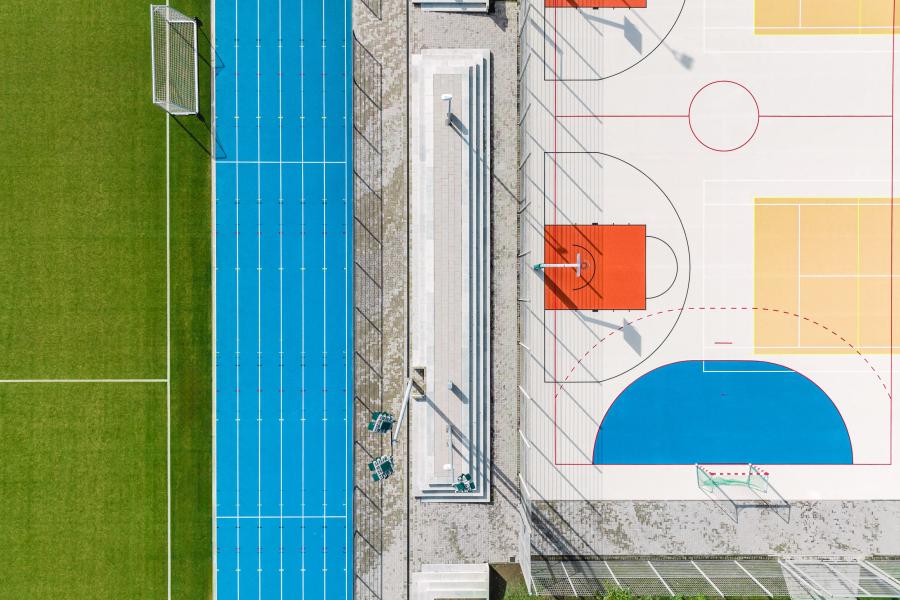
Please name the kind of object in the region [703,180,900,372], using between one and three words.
tennis court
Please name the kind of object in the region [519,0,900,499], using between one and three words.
sports court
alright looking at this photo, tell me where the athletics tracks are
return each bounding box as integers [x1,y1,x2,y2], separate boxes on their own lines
[211,0,352,600]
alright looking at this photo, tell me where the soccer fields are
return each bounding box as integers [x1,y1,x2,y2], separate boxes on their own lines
[0,0,213,600]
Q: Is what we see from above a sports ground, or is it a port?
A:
sports ground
